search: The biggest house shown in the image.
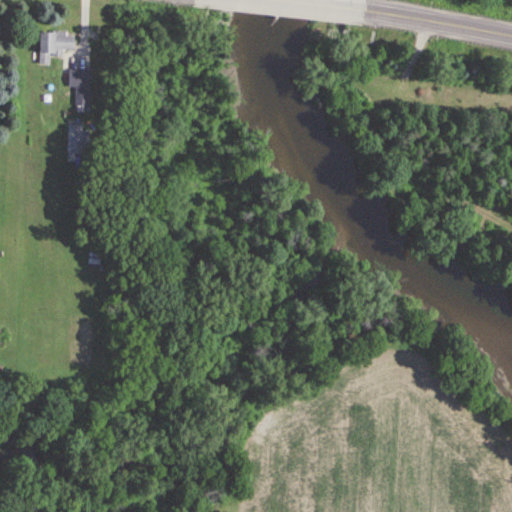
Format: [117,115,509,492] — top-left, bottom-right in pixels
[40,30,76,65]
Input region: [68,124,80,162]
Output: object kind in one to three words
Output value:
house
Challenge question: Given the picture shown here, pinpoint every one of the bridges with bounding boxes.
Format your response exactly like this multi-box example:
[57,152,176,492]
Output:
[193,0,368,26]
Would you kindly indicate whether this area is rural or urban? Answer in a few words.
rural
